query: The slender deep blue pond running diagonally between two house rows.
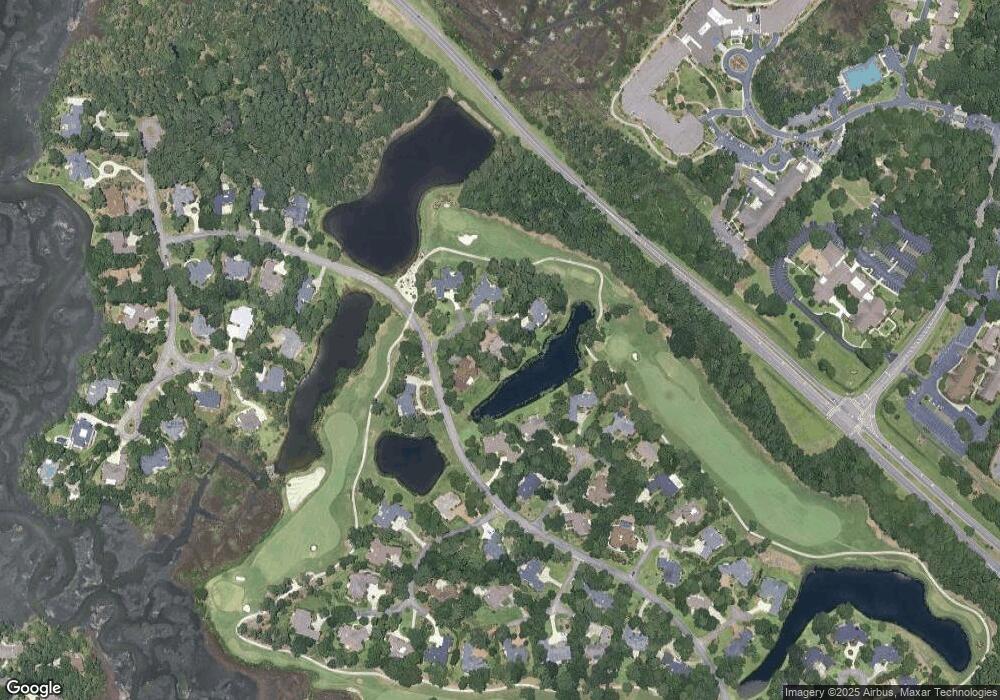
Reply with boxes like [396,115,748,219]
[473,303,594,419]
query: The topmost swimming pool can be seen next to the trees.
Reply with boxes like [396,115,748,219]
[840,55,886,95]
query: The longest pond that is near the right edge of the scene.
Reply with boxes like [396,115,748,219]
[741,567,972,685]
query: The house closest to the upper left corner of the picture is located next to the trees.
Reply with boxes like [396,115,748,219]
[58,100,89,137]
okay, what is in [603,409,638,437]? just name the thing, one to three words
house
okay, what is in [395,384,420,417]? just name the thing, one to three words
house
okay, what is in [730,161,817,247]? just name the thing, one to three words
building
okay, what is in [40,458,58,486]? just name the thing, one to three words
swimming pool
